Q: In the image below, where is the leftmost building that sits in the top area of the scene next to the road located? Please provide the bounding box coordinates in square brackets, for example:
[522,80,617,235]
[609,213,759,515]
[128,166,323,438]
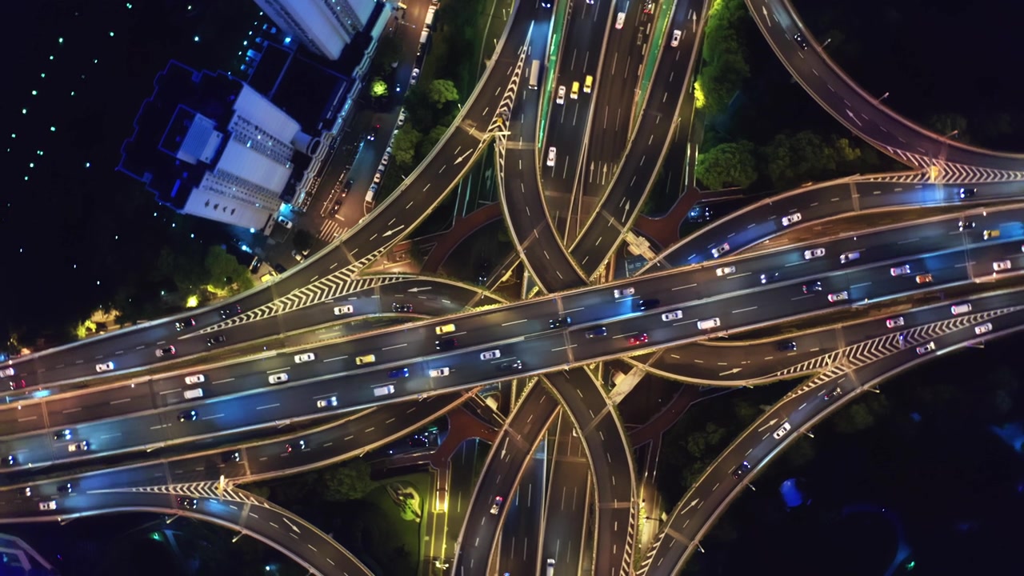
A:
[113,58,301,240]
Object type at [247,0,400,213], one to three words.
building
